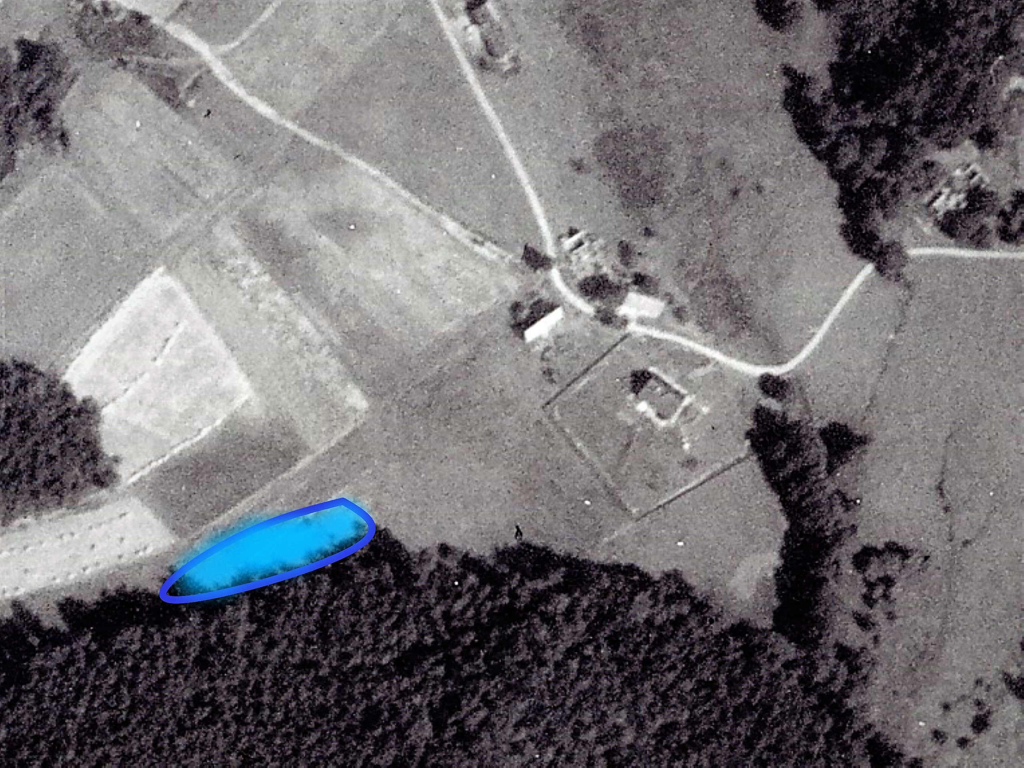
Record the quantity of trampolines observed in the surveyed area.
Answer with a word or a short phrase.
none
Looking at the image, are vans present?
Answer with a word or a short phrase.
No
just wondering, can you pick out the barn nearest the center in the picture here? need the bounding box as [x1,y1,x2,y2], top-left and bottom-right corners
[522,303,565,341]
